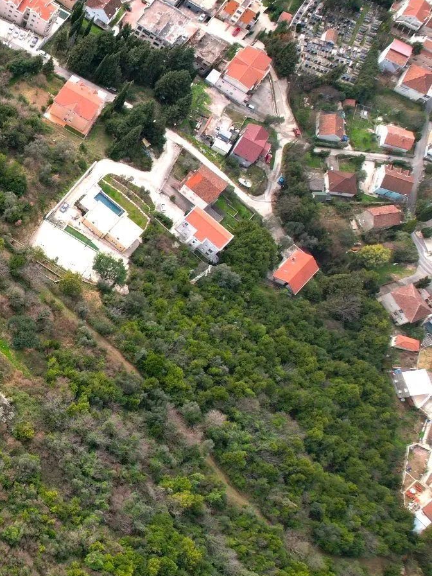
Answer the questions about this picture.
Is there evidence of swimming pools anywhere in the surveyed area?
Yes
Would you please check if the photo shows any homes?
Yes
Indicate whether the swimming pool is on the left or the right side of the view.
left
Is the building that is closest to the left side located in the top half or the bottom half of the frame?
top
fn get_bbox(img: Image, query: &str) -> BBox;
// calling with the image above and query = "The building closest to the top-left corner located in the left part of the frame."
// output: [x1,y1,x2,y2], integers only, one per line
[0,0,63,36]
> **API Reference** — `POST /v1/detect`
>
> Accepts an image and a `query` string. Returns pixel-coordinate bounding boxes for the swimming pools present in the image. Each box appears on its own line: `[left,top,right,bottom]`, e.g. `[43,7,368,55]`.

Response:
[94,191,126,218]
